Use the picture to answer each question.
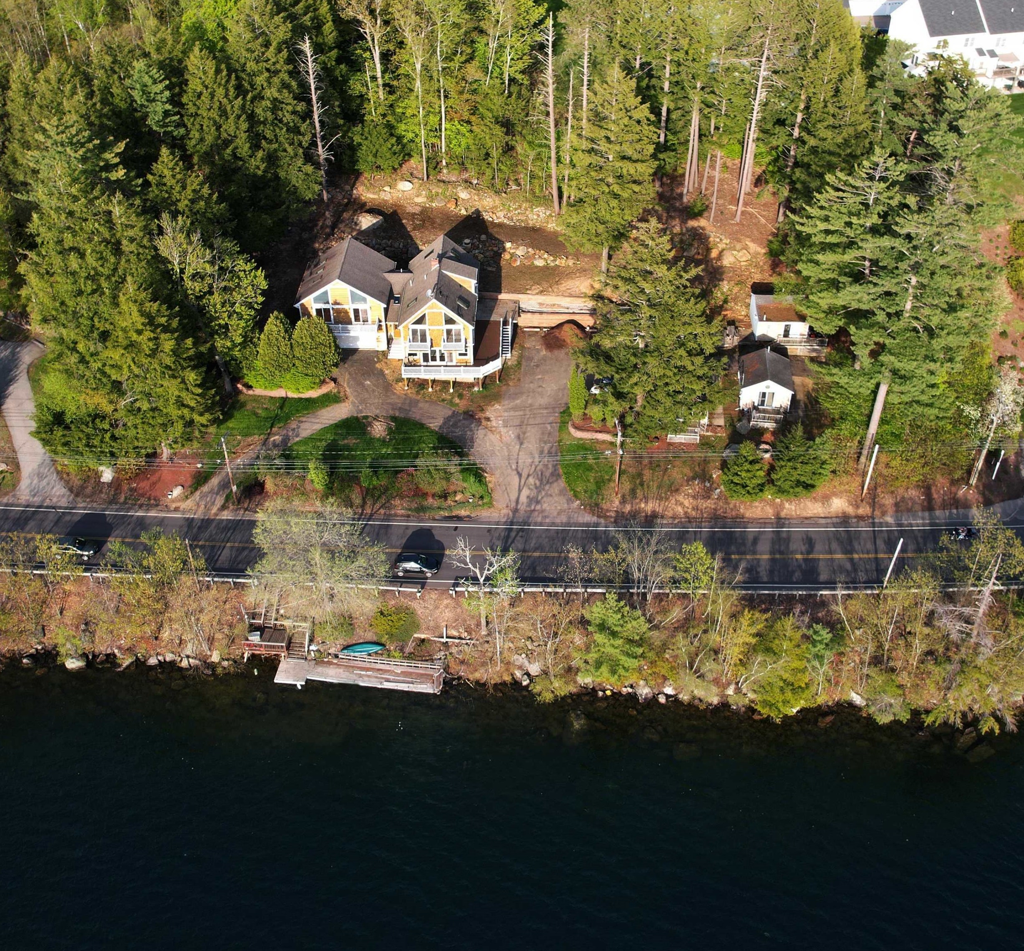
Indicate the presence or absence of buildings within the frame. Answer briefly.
Yes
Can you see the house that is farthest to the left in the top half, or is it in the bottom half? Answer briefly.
top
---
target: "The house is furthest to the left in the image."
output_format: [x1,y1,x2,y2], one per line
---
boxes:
[293,232,483,365]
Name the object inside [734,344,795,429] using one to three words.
house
